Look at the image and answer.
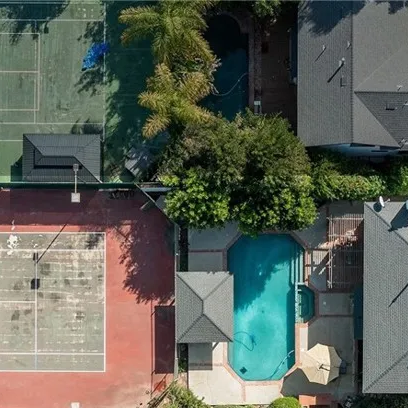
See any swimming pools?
Yes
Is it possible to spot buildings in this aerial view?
Yes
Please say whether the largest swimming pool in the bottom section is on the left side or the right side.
right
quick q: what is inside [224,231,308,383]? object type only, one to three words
swimming pool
